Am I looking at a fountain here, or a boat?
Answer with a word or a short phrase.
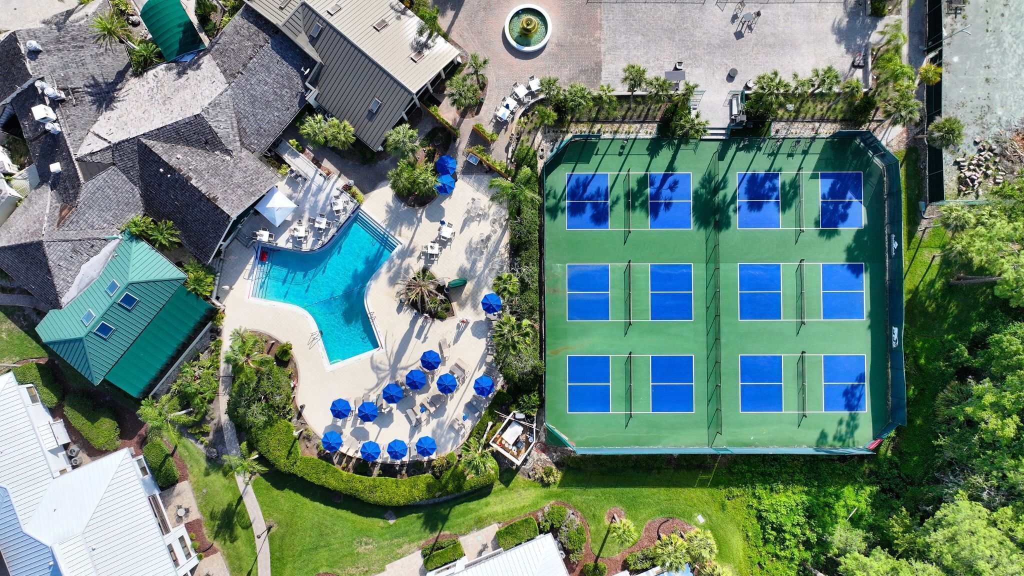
fountain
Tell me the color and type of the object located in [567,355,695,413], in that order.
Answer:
blue sports court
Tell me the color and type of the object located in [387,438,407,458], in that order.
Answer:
blue umbrella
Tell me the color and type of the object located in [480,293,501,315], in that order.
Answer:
blue umbrella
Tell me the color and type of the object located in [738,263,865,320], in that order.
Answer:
blue sports court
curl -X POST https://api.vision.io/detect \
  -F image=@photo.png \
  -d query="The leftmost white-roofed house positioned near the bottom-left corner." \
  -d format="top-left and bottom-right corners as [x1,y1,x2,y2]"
[0,371,200,576]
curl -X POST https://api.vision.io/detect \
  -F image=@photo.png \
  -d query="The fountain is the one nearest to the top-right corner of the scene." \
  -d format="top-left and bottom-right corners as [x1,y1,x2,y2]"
[505,4,551,53]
